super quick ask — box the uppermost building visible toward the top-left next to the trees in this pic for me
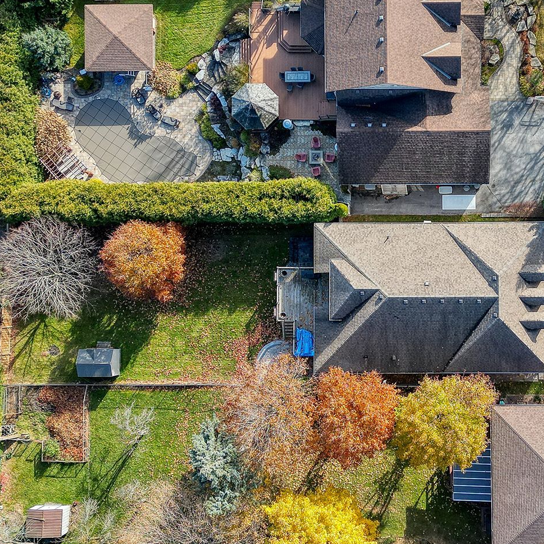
[83,3,164,78]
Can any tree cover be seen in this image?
Yes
